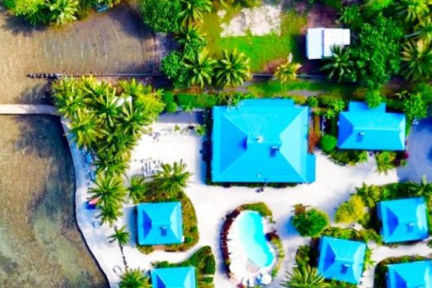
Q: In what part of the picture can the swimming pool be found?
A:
bottom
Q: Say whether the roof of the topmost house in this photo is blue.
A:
No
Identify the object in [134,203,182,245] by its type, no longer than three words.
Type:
house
